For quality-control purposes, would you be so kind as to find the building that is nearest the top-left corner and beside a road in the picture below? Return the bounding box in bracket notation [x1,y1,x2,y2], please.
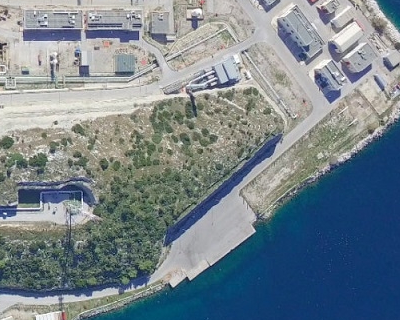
[22,11,83,31]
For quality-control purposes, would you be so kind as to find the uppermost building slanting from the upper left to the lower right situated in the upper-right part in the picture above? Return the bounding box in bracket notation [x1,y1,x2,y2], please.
[273,6,325,54]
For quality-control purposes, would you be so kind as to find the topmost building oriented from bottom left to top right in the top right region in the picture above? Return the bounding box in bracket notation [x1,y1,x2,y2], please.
[327,7,356,31]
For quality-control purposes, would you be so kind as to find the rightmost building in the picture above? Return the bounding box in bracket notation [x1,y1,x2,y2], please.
[379,47,400,70]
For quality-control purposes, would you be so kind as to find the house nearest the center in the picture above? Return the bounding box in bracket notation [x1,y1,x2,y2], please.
[188,57,242,96]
